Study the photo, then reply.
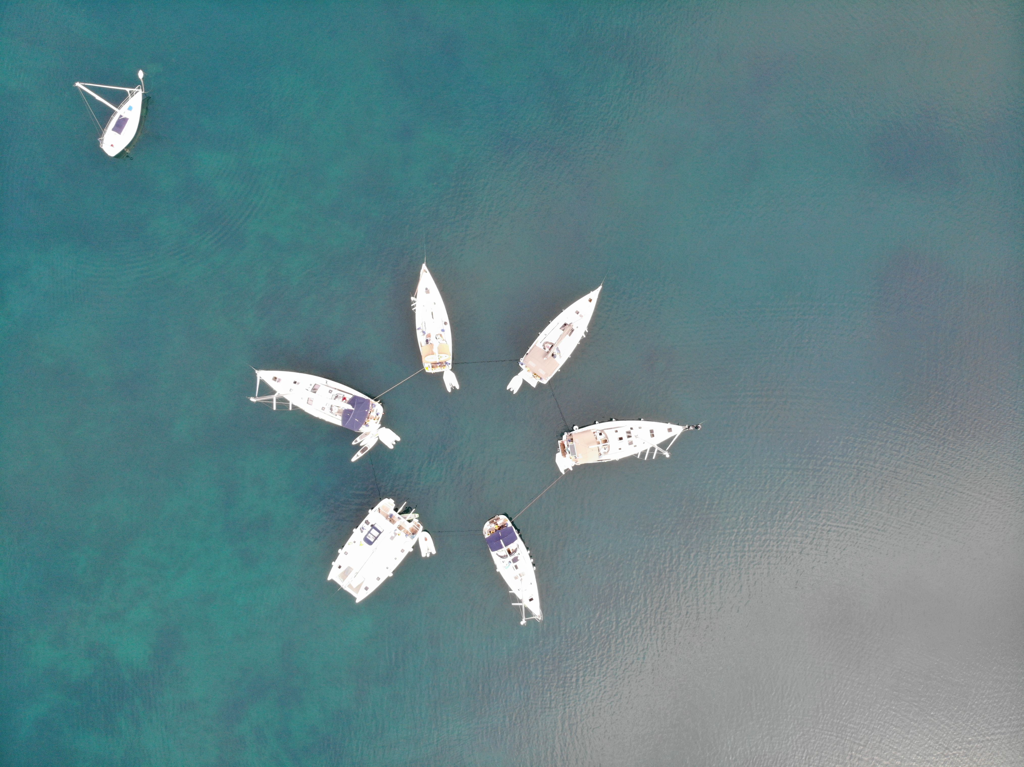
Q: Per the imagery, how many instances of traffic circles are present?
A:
0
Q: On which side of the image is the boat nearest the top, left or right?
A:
left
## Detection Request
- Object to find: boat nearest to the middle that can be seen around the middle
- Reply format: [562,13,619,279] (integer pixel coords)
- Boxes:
[506,375,523,396]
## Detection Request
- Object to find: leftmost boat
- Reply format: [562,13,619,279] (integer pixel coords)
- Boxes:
[77,82,145,156]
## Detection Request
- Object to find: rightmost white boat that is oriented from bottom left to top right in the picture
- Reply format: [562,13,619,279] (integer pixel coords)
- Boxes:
[518,285,603,387]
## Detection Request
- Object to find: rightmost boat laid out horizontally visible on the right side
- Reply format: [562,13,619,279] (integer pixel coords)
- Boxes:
[558,421,684,465]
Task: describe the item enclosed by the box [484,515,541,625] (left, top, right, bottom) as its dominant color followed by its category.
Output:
white boat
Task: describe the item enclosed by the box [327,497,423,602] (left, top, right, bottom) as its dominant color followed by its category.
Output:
white boat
